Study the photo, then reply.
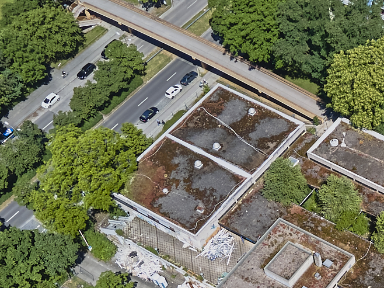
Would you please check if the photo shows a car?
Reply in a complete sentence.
Yes, looking at the shot, I can spot a car.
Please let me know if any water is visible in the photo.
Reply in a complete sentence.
No, there's no water in this view.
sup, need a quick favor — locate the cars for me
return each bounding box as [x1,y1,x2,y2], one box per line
[177,70,199,88]
[135,105,158,125]
[160,84,183,102]
[72,59,96,80]
[38,90,59,107]
[0,123,18,138]
[96,38,118,57]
